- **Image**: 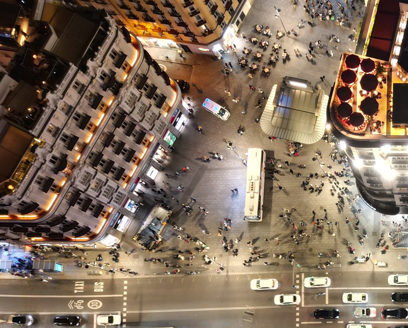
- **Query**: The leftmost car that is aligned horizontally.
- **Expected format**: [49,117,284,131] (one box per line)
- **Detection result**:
[7,314,36,327]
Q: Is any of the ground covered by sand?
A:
No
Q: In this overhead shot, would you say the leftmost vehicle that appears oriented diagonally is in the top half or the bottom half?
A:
top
